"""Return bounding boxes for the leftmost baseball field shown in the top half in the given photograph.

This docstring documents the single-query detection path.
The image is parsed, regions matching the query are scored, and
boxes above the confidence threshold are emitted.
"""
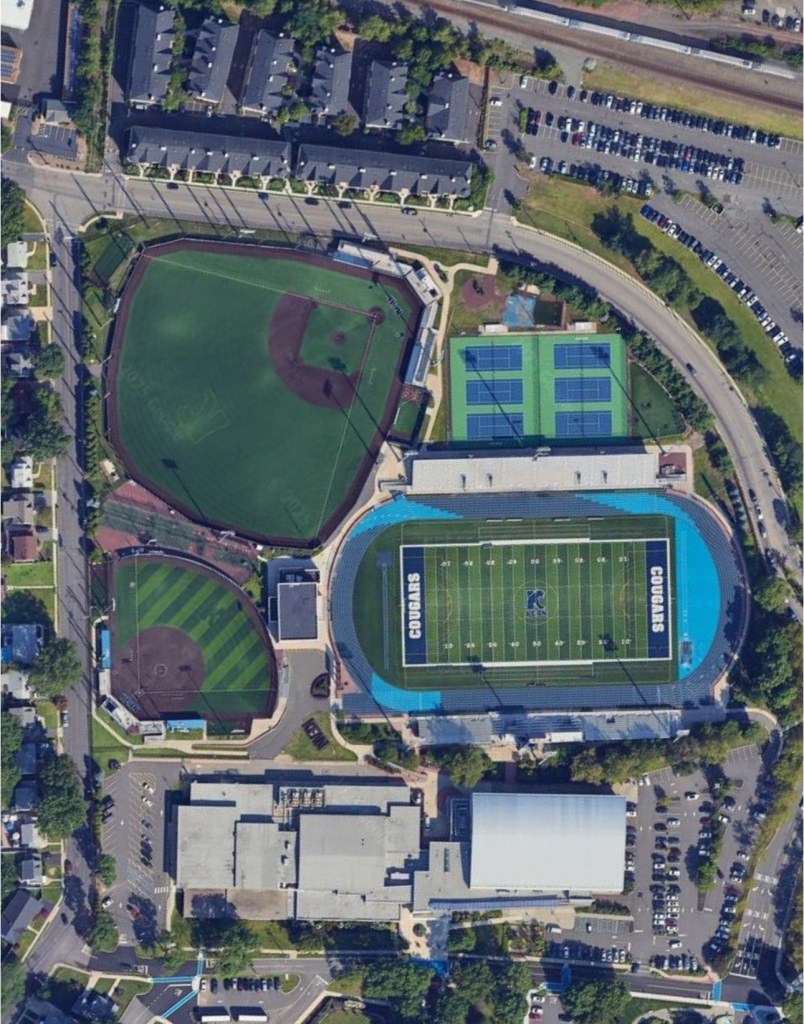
[104,239,424,547]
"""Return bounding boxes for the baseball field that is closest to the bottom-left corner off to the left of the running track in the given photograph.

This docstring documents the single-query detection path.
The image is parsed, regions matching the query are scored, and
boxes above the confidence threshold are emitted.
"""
[110,549,276,728]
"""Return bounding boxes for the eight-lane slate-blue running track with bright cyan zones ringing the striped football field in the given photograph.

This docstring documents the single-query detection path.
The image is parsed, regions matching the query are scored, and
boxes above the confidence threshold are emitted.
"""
[331,491,746,717]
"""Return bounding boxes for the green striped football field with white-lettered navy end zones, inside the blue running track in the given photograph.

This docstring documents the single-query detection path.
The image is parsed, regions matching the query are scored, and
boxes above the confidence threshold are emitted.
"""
[356,516,677,690]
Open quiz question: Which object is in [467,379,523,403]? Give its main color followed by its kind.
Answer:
blue tennis court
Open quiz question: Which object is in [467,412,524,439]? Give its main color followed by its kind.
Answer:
blue tennis court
